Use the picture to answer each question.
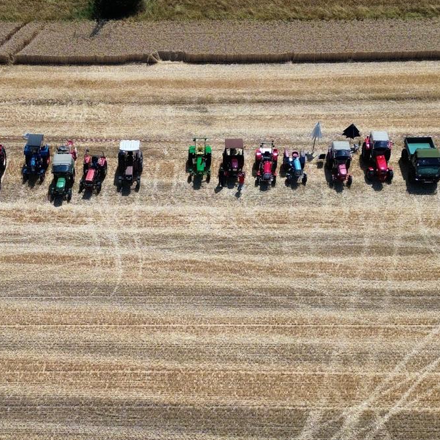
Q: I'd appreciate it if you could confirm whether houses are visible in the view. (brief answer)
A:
No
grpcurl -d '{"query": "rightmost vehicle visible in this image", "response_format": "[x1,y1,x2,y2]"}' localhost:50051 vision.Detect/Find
[406,139,440,182]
